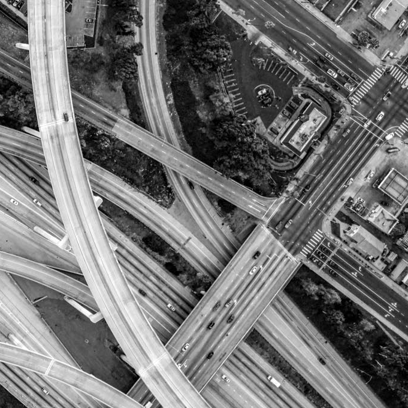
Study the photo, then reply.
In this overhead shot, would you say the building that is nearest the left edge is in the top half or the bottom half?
top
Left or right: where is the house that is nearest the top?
right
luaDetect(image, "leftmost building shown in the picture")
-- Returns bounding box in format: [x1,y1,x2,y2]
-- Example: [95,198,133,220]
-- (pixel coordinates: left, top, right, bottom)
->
[274,102,327,155]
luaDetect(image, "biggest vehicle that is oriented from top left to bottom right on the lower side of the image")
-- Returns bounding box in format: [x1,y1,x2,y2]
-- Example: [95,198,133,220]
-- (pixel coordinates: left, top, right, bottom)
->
[268,375,285,390]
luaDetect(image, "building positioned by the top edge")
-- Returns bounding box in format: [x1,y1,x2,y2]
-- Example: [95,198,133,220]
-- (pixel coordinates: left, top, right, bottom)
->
[366,0,408,30]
